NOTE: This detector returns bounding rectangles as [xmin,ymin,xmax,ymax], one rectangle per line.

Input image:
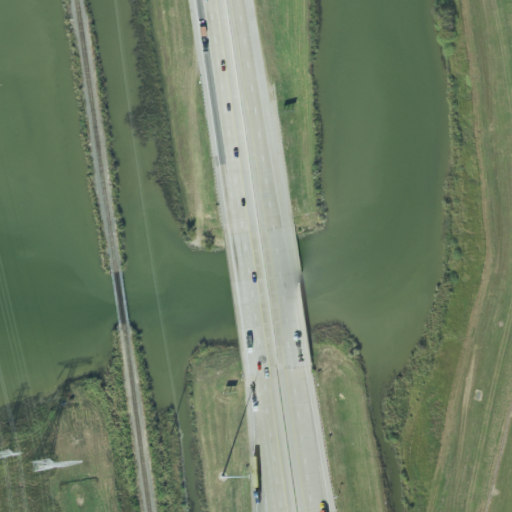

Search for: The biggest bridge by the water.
[223,231,313,367]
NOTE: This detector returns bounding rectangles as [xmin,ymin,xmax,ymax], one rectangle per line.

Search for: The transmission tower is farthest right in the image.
[34,458,83,474]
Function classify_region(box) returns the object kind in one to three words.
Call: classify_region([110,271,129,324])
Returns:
bridge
